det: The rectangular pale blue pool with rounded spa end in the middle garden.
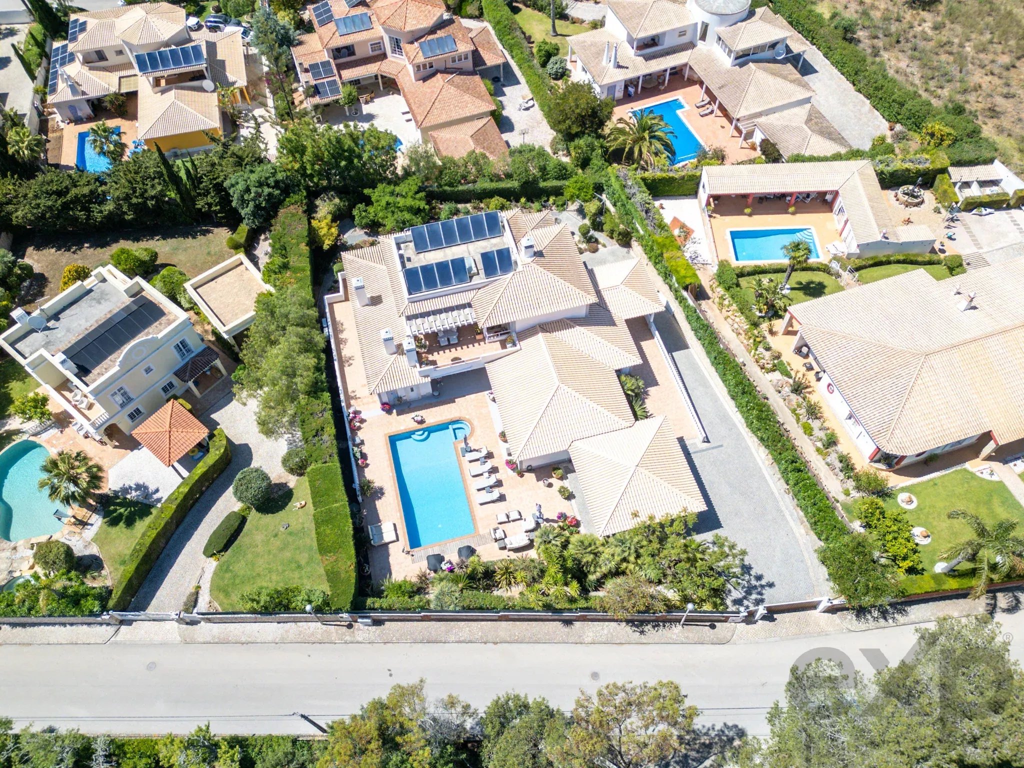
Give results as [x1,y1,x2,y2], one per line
[384,414,481,555]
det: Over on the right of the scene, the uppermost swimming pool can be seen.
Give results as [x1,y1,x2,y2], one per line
[653,95,714,166]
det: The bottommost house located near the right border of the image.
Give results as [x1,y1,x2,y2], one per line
[781,257,1024,470]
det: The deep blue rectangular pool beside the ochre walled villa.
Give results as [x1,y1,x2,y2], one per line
[67,124,123,169]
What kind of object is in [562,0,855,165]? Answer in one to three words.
house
